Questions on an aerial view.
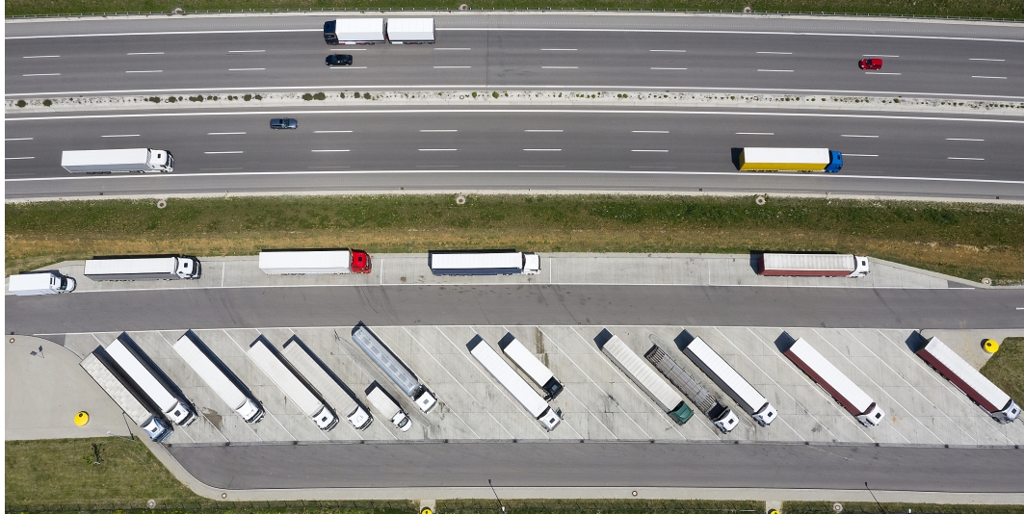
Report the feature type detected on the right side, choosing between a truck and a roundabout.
truck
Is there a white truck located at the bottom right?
Yes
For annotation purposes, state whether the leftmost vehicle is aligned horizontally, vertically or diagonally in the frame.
horizontally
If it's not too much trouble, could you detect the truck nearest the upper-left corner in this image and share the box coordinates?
[61,148,174,174]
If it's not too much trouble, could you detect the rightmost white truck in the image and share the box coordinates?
[916,336,1020,425]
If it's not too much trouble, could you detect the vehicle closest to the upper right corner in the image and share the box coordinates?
[857,57,883,71]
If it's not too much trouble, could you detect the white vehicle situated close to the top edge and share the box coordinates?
[322,17,435,44]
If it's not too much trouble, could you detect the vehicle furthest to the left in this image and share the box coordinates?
[9,274,76,295]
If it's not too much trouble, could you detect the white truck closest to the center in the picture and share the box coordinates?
[433,252,540,275]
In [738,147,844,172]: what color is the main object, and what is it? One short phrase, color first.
white truck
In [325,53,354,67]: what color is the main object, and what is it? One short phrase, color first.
black car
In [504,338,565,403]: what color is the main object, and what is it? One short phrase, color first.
white truck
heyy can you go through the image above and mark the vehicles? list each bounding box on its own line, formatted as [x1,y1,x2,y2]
[61,148,174,174]
[322,17,435,44]
[916,336,1020,425]
[857,57,883,71]
[248,341,341,432]
[504,338,565,403]
[173,335,266,425]
[269,117,300,131]
[759,253,869,276]
[647,348,740,435]
[354,329,436,411]
[738,147,844,172]
[80,352,172,442]
[325,53,354,67]
[85,257,202,281]
[471,340,561,433]
[106,339,198,429]
[784,338,883,427]
[259,251,372,274]
[433,252,540,275]
[282,341,374,433]
[683,336,777,427]
[9,274,76,295]
[602,335,695,427]
[366,386,413,432]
